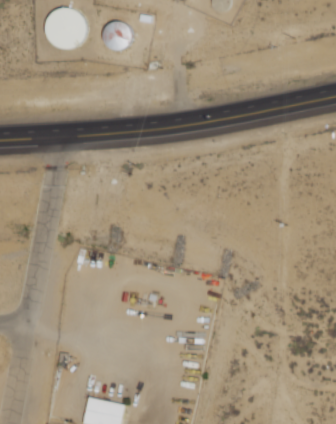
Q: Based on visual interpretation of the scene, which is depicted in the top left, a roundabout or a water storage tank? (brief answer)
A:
water storage tank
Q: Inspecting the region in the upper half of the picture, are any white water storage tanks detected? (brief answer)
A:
Yes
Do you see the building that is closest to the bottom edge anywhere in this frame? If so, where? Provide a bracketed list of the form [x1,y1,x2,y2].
[83,396,126,424]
